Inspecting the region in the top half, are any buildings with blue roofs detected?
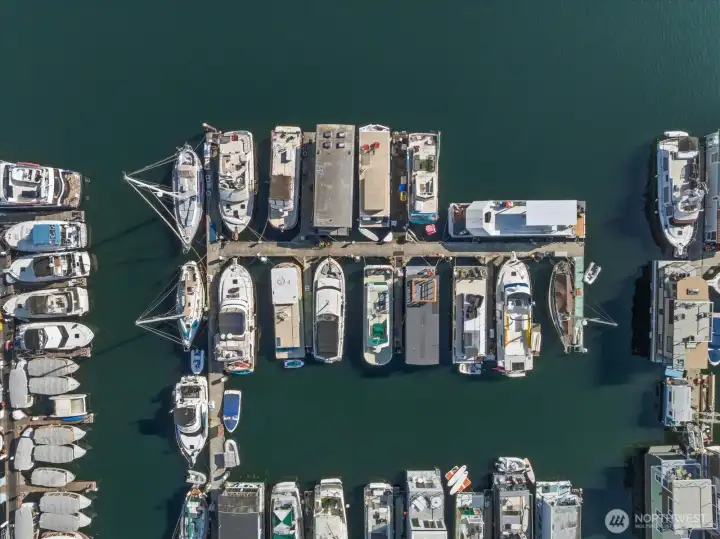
No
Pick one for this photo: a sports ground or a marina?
marina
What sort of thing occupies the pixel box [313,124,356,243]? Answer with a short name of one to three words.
building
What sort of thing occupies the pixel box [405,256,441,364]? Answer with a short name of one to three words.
boat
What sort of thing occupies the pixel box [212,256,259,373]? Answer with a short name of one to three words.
boat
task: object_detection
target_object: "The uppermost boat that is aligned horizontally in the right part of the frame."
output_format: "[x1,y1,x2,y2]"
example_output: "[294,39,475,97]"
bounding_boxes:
[444,200,586,243]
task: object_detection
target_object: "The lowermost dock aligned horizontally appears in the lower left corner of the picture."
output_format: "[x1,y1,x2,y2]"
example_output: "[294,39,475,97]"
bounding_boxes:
[14,481,96,494]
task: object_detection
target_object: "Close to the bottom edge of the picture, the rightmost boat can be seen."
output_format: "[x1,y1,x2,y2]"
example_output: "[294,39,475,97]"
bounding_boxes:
[641,444,720,539]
